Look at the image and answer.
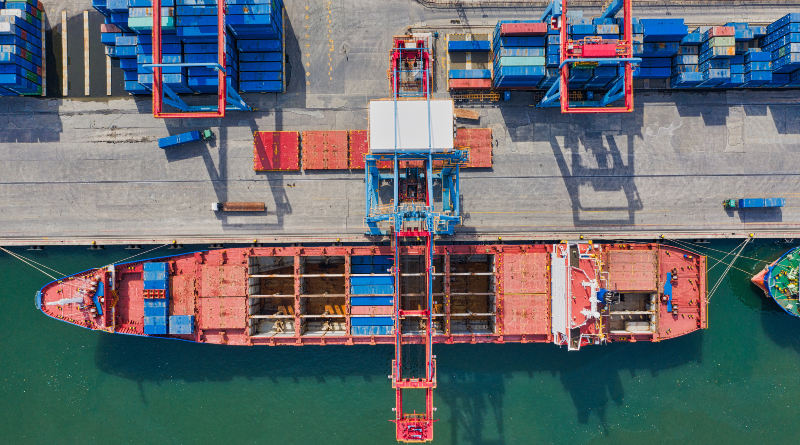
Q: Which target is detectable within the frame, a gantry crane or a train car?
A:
gantry crane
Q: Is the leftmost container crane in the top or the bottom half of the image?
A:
top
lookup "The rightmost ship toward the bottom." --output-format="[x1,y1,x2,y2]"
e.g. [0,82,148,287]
[750,244,800,319]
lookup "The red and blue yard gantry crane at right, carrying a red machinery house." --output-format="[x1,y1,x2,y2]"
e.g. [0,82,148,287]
[529,0,644,114]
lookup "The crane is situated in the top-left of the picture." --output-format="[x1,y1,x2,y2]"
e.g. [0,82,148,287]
[141,0,261,119]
